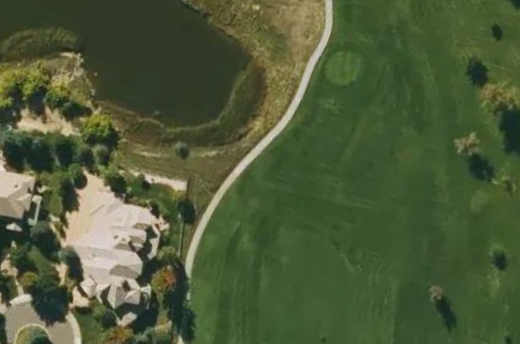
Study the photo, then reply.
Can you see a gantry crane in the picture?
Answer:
No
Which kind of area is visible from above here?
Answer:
golf course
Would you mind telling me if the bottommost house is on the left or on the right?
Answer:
left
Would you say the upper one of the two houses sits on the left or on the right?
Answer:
left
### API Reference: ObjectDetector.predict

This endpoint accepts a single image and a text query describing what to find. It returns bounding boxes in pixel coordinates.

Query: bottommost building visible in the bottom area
[76,197,156,328]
